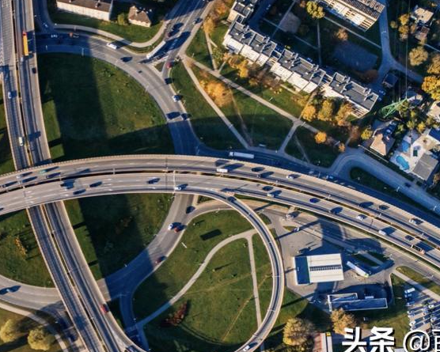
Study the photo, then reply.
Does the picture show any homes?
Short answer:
Yes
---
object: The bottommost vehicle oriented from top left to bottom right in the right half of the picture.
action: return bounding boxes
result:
[347,261,369,278]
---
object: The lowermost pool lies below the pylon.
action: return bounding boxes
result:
[394,155,410,171]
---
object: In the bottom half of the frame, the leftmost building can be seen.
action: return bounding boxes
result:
[291,256,312,284]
